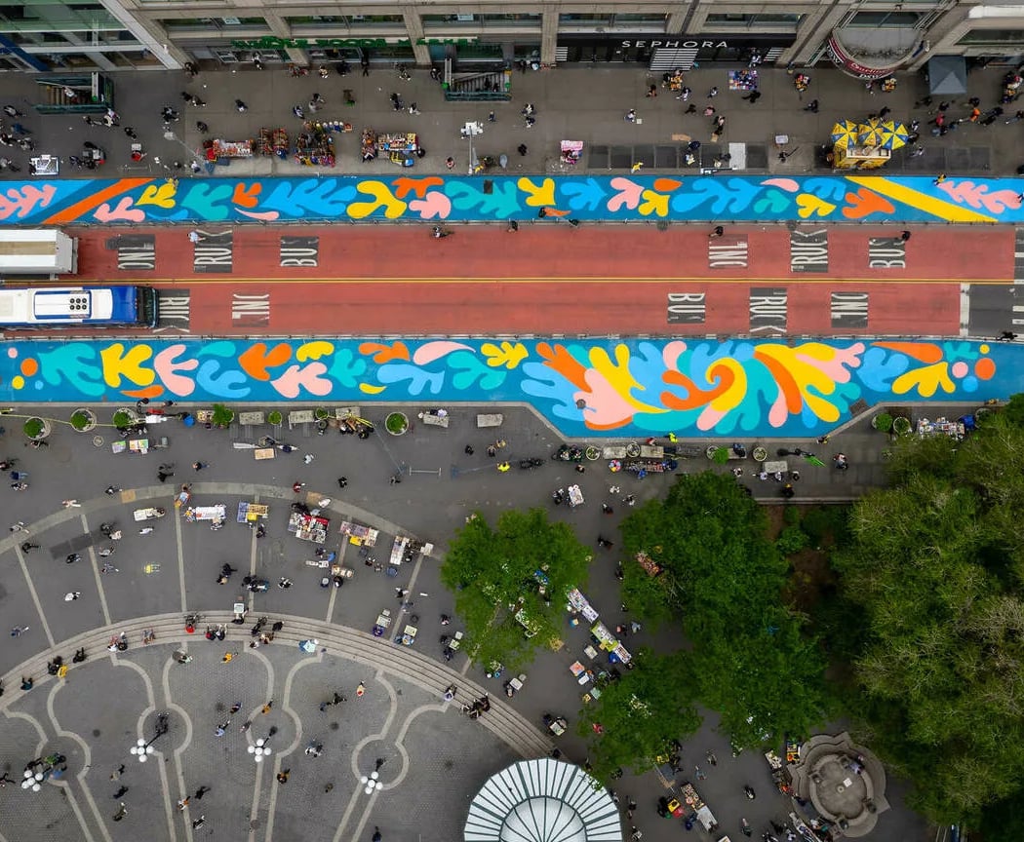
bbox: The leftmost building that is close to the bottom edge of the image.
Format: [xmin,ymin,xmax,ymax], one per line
[464,757,622,842]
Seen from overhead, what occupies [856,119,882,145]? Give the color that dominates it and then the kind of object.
yellow umbrella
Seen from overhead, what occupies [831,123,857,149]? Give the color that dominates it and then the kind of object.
yellow umbrella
